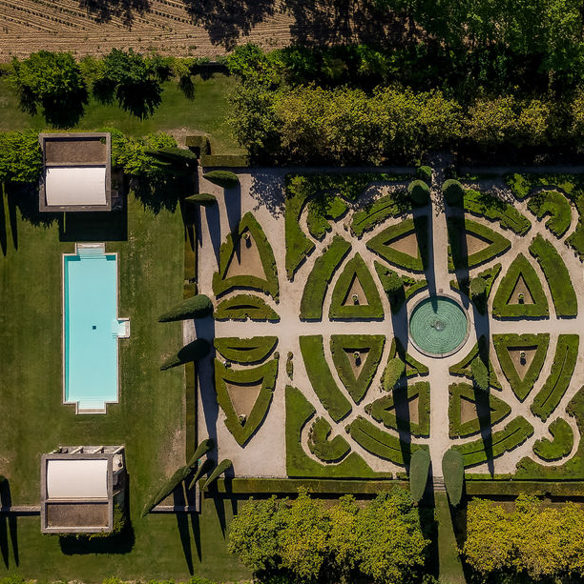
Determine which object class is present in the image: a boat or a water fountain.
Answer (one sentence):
I can see a water fountain in this picture.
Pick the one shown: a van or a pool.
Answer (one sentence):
This aerial view contains a pool.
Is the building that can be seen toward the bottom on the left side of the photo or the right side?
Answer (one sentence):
It is on the left.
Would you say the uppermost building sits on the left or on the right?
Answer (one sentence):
The uppermost building is on the left side of the image.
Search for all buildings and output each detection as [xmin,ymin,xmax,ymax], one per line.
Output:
[39,133,122,212]
[41,447,124,533]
